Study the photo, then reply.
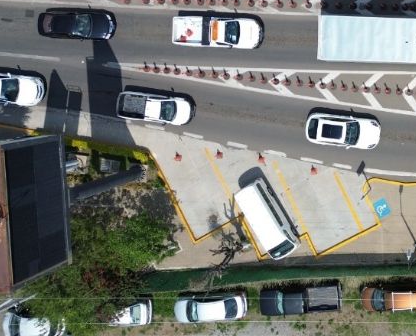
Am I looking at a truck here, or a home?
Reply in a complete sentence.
I can see a truck in this picture.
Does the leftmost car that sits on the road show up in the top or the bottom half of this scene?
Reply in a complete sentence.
Seen from above, the leftmost car that sits on the road lies in the top half of the view.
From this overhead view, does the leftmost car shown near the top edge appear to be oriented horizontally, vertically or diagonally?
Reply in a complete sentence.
The leftmost car shown near the top edge runs horizontally in the image.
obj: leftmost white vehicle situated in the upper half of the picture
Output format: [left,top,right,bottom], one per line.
[0,70,48,108]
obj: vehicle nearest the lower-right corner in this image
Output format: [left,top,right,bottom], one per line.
[363,283,416,320]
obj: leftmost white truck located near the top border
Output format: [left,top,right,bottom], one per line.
[171,14,265,52]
